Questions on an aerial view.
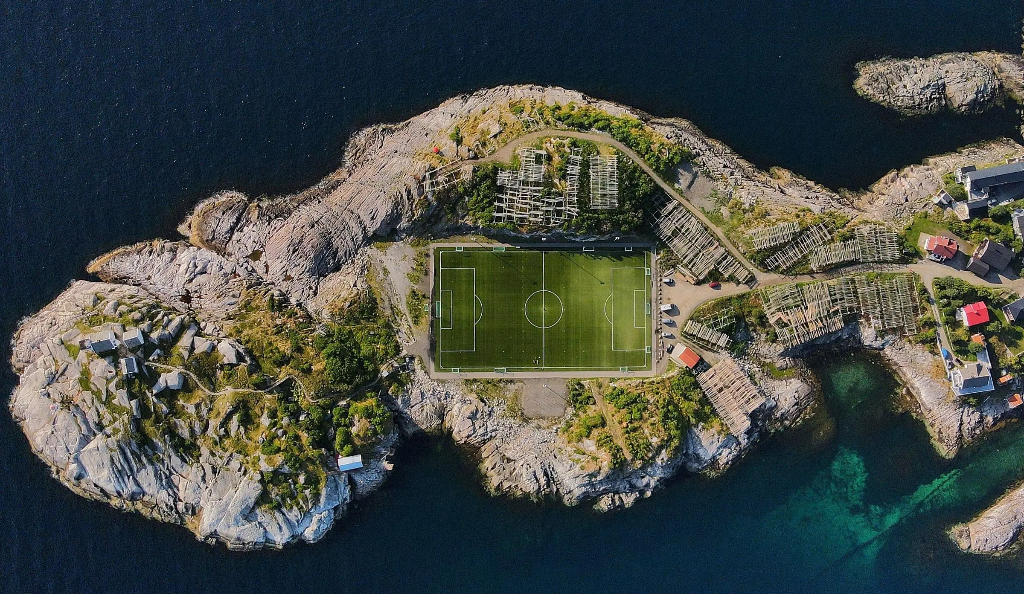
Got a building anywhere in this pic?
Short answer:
Yes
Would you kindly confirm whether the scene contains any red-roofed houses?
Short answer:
Yes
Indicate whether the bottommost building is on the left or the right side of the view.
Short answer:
left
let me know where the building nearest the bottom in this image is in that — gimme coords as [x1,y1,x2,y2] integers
[335,453,365,473]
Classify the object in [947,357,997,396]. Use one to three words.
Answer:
house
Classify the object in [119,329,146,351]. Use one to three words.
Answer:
house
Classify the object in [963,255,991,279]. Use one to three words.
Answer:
building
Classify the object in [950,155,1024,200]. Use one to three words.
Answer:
building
